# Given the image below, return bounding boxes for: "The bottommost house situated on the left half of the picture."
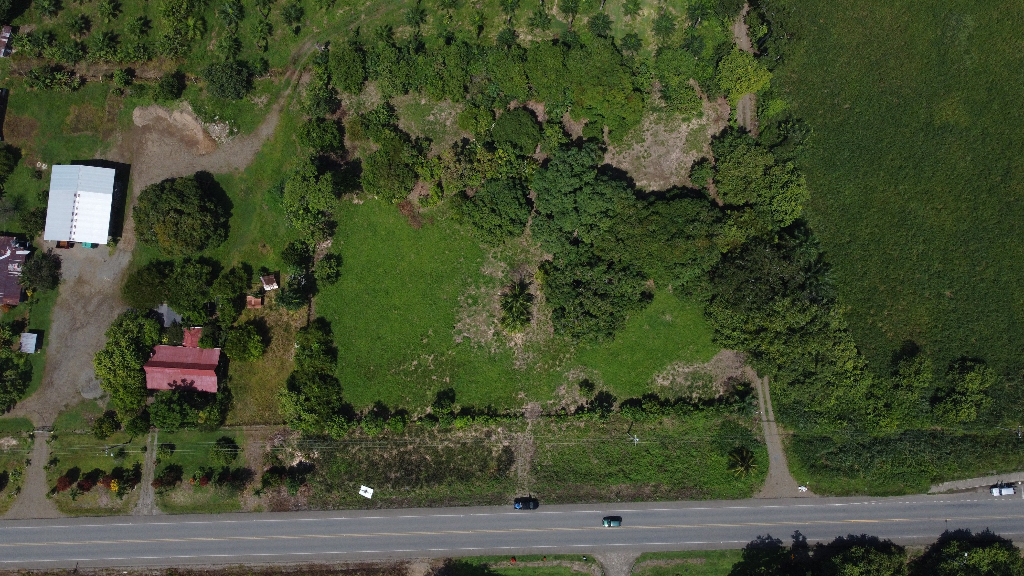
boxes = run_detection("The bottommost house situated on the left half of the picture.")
[143,344,223,392]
